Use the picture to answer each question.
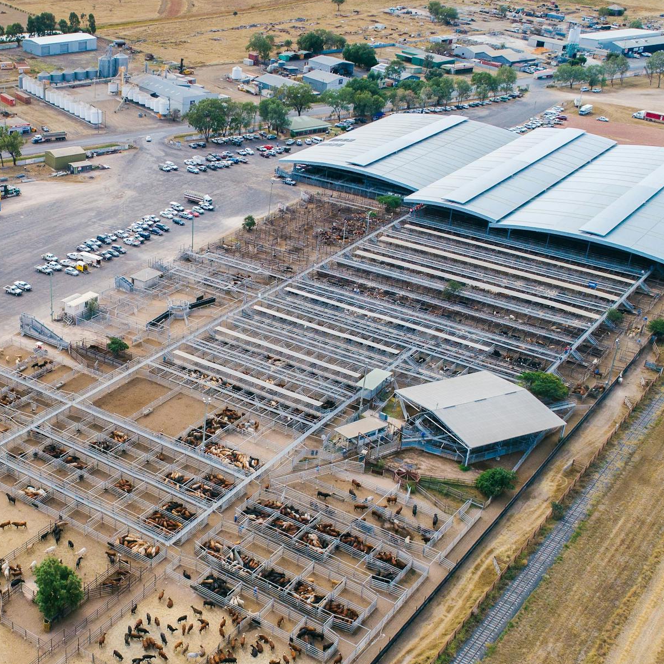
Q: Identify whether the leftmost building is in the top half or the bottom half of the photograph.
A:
top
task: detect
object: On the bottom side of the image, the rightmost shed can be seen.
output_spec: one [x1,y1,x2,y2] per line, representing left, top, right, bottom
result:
[378,370,566,470]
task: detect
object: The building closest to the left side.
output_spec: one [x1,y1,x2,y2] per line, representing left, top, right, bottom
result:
[0,113,31,133]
